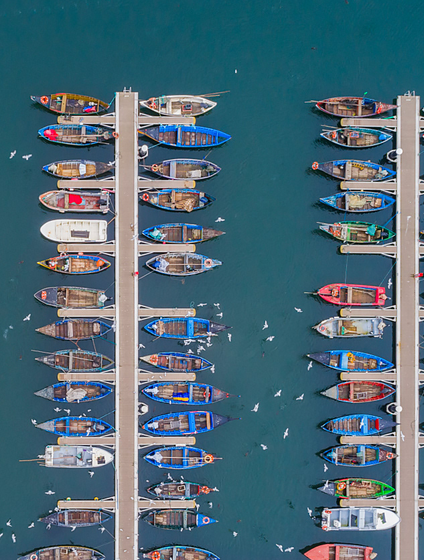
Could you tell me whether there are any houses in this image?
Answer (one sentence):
No, there is no house in the image.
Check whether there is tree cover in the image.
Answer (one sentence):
No, there is no tree cover in the image.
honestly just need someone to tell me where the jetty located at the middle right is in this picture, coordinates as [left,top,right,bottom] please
[338,89,424,560]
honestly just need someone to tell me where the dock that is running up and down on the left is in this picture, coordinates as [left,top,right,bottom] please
[57,86,195,560]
